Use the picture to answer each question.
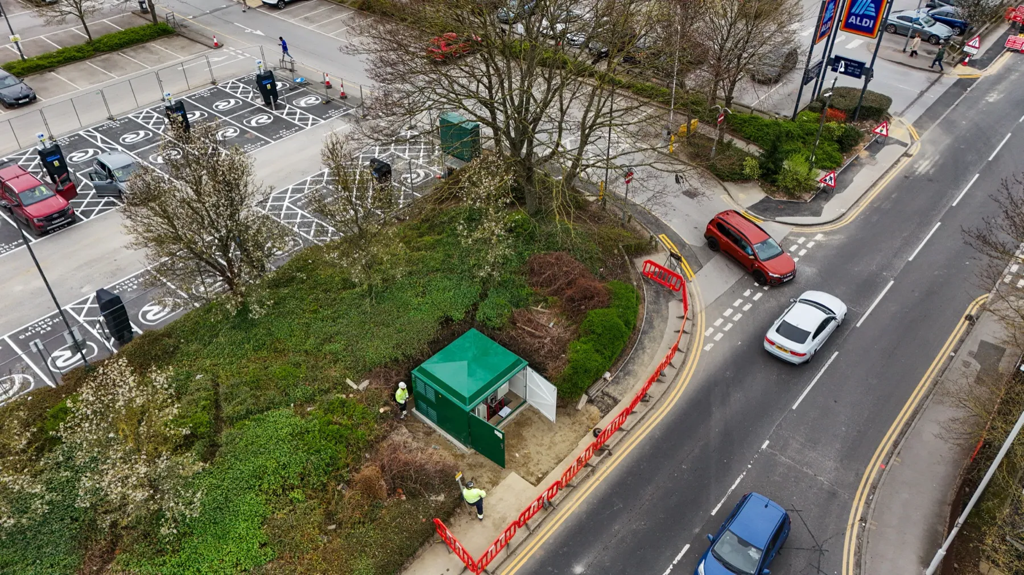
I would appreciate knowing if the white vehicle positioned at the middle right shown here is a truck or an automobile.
automobile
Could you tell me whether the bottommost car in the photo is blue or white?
blue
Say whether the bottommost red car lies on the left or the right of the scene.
right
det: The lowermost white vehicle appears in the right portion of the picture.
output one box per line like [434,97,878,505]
[770,286,849,358]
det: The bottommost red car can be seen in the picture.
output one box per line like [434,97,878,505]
[709,207,799,282]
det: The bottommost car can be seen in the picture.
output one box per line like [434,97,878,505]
[699,496,796,575]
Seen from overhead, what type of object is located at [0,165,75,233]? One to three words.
car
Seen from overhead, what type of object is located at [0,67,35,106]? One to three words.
car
